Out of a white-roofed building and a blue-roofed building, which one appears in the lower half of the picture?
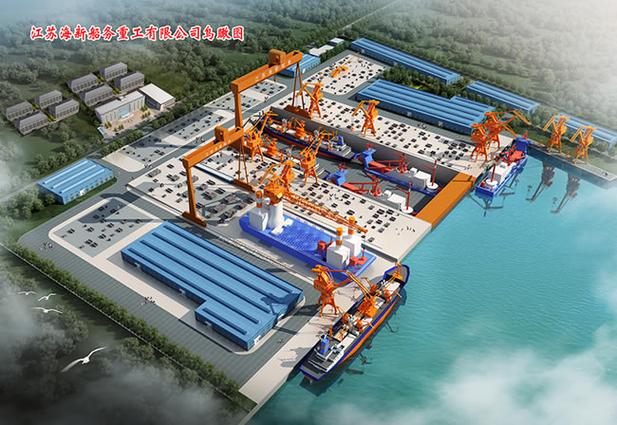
blue-roofed building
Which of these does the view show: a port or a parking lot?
port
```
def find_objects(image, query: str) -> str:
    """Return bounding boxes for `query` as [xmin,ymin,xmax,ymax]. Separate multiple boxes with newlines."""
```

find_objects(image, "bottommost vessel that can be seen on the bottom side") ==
[304,265,415,380]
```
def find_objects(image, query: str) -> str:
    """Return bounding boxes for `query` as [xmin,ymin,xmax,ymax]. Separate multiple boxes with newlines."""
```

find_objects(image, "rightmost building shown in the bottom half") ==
[119,220,305,350]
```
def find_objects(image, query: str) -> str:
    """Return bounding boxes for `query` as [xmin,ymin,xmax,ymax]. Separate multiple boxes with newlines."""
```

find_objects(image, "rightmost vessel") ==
[477,128,542,197]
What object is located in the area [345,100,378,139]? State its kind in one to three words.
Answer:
crane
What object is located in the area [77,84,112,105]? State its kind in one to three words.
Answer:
building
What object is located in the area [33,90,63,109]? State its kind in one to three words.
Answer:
building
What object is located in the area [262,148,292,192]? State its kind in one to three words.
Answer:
crane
